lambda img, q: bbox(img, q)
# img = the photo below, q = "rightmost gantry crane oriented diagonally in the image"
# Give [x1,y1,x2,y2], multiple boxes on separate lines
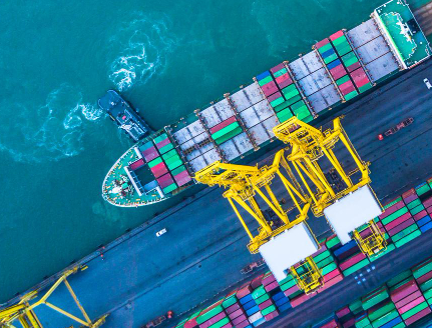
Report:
[272,112,391,264]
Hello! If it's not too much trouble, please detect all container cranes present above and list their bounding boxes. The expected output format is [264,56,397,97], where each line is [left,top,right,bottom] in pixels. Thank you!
[272,112,391,264]
[198,145,329,299]
[0,270,108,328]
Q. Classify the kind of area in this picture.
port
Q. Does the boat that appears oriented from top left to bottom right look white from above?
No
